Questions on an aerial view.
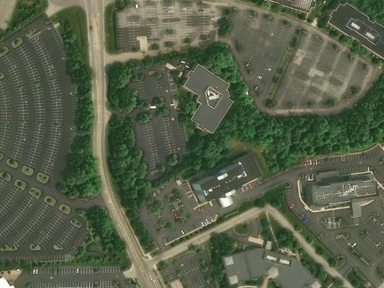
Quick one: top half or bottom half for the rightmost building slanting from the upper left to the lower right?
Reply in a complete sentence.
The rightmost building slanting from the upper left to the lower right sits in the top half of the picture.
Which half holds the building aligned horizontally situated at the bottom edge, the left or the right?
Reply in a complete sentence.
You can find the building aligned horizontally situated at the bottom edge on the right side of the picture.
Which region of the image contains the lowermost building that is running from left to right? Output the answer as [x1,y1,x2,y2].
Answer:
[220,241,322,288]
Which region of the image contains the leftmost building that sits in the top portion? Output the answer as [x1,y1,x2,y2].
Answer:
[179,64,234,133]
